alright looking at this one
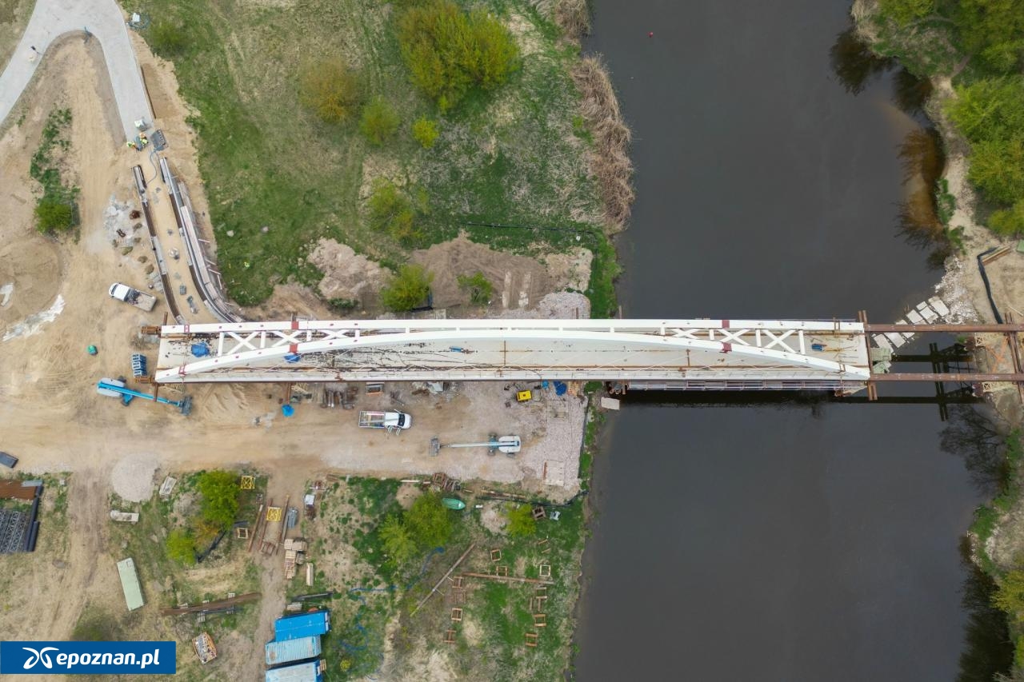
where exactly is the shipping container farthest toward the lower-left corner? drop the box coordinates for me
[117,557,147,611]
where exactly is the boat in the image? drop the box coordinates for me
[442,496,466,510]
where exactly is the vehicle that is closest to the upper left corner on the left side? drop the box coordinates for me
[106,281,159,311]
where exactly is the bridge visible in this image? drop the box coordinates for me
[151,317,874,383]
